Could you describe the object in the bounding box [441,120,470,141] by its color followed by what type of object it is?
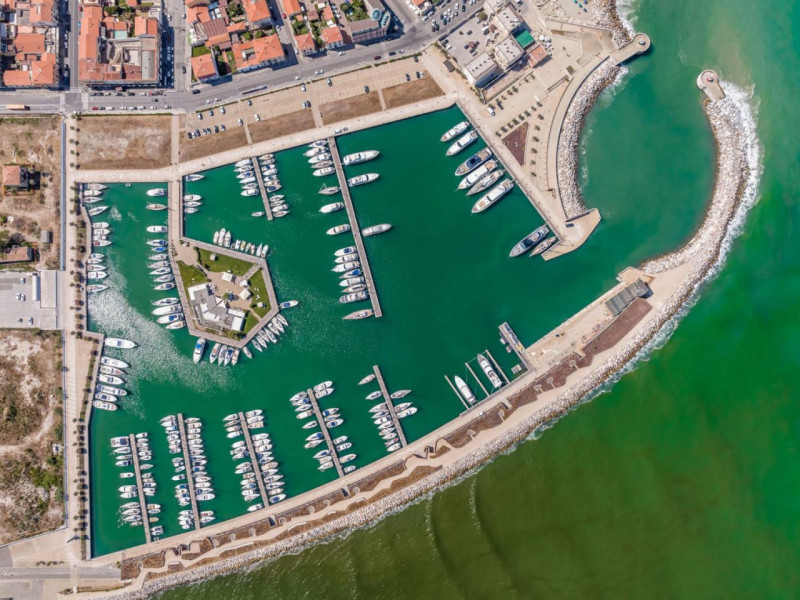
white boat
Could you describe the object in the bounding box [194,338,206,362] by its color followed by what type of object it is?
white boat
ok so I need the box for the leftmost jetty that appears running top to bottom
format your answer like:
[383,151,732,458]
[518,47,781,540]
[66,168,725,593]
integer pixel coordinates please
[130,434,152,543]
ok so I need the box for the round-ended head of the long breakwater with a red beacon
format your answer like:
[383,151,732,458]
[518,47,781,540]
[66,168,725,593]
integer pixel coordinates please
[695,70,725,103]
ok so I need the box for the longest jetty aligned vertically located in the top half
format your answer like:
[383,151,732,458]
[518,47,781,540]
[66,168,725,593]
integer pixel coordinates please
[329,138,382,318]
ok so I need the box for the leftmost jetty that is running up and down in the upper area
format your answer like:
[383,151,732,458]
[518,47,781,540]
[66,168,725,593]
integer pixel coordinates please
[252,158,273,220]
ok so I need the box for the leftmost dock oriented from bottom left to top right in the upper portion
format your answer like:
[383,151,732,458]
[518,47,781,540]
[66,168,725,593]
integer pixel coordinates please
[610,33,651,68]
